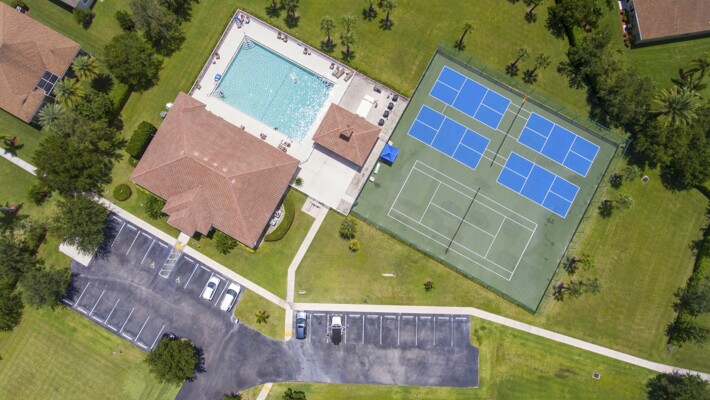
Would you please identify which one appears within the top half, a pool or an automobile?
pool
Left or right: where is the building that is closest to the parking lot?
left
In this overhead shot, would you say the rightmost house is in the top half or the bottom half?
top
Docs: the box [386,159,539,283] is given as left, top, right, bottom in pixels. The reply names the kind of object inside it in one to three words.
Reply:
tennis court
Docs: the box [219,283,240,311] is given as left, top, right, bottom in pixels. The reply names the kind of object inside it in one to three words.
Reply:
car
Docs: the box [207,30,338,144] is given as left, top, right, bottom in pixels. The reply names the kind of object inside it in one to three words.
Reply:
swimming pool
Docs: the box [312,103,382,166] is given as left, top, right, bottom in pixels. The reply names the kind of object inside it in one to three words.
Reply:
building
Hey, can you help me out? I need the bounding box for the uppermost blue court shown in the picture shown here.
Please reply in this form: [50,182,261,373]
[429,66,512,130]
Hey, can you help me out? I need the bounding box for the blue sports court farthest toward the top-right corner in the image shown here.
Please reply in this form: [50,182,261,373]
[517,112,601,177]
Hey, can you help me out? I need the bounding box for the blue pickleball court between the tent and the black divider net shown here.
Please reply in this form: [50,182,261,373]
[408,105,490,169]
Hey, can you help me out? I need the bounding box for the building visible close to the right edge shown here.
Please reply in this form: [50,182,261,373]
[623,0,710,46]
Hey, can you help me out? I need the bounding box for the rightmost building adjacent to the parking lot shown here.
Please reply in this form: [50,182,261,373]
[132,92,302,247]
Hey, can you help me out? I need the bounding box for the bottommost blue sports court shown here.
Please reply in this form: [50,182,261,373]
[496,152,581,218]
